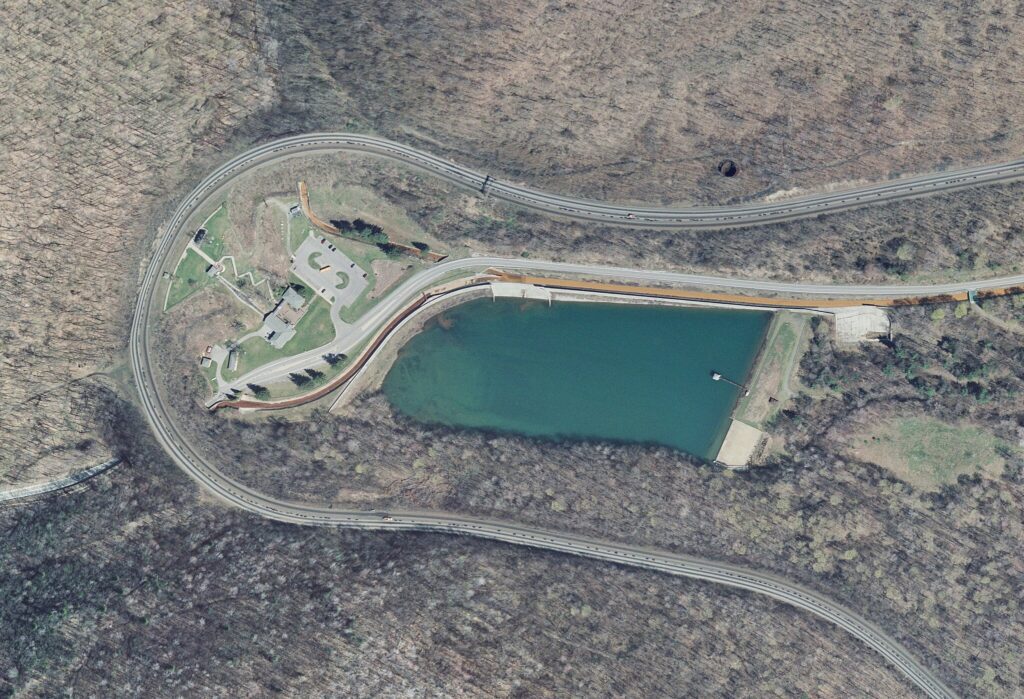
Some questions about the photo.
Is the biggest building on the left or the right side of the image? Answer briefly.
left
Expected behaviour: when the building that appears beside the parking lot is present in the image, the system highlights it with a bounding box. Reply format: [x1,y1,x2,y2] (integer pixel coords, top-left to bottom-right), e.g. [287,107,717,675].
[264,287,308,348]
